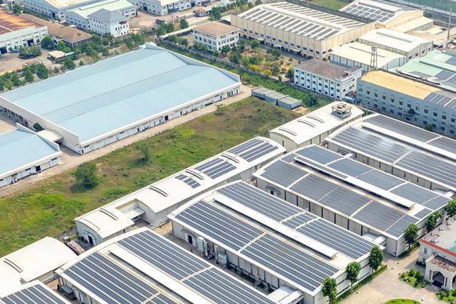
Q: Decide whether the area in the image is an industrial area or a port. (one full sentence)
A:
The area seen from above is an industrial area.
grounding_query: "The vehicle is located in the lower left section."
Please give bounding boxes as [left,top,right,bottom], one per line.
[62,230,75,245]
